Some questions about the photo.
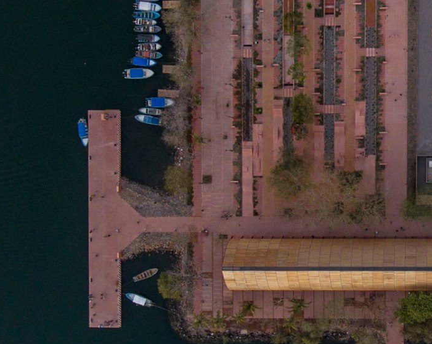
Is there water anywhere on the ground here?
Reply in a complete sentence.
Yes, water shows up in the scene.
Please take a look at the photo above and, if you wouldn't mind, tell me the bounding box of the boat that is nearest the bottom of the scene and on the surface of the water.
[126,294,154,308]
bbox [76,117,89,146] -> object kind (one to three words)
boat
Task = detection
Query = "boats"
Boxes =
[76,117,89,146]
[142,97,174,107]
[139,107,162,115]
[132,0,161,12]
[133,43,161,51]
[132,18,157,25]
[128,56,156,67]
[131,25,161,33]
[130,11,160,18]
[121,68,154,78]
[132,51,162,59]
[126,294,154,308]
[134,34,159,42]
[134,115,162,127]
[132,269,158,282]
